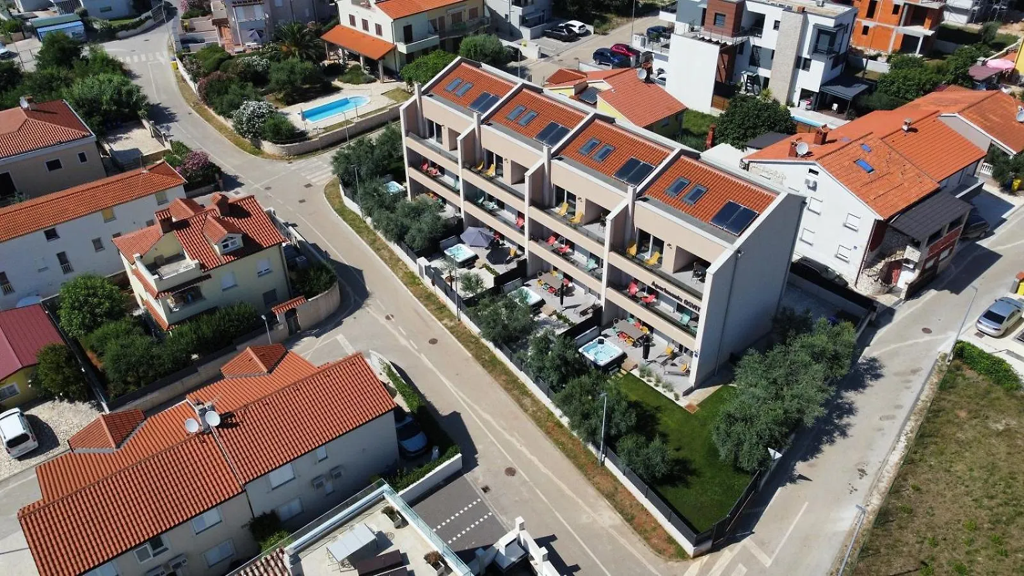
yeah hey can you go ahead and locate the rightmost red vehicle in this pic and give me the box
[610,44,642,60]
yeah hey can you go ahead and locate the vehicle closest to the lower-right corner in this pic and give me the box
[979,297,1024,336]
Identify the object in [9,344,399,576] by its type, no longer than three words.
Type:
house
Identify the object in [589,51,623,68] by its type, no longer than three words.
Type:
car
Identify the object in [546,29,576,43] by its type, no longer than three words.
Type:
car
